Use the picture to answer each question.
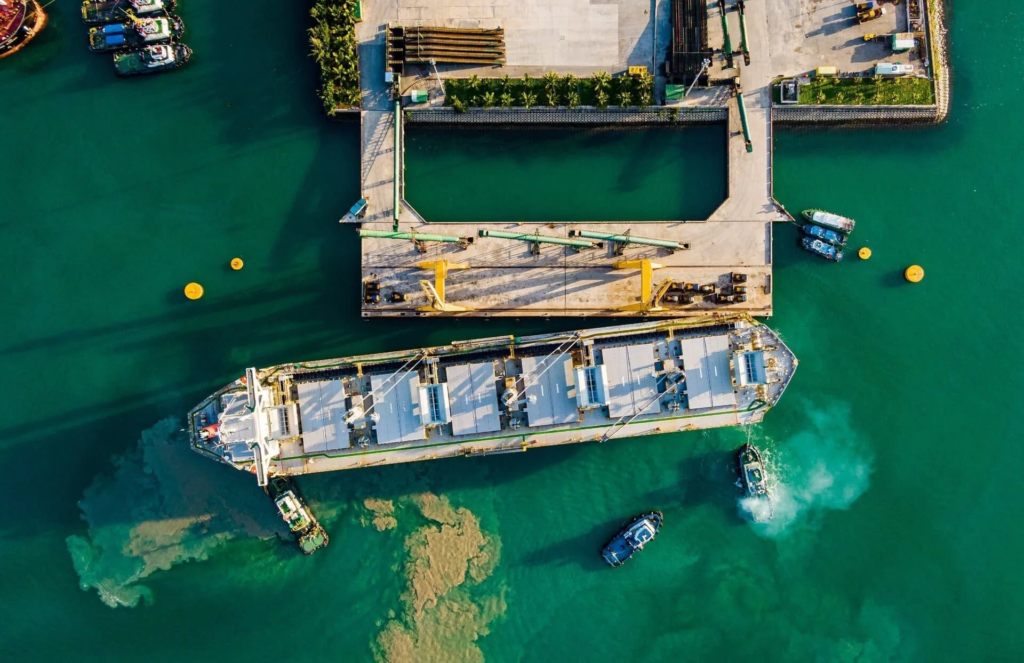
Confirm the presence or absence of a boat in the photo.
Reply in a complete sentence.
Yes, there's a boat here.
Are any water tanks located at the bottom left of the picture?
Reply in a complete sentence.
No, I can find no water tank at the bottom left of the picture.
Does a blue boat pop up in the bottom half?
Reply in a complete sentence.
Yes, a blue boat is visible in the bottom half.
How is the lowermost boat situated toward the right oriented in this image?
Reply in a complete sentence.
From this overhead view, the lowermost boat situated toward the right appears to run on a diagonal.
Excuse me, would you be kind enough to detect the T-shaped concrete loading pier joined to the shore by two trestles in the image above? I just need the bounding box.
[340,108,794,321]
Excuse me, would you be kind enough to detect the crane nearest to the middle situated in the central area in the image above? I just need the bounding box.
[414,256,476,314]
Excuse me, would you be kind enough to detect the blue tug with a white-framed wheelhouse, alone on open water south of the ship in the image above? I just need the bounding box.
[599,511,664,570]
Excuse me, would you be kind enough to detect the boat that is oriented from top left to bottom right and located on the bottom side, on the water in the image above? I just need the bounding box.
[268,476,330,558]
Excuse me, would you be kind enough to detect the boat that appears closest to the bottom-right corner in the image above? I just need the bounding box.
[740,442,774,523]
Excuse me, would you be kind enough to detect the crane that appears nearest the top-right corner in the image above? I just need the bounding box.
[608,256,675,314]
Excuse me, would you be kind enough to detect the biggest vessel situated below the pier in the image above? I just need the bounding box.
[185,311,799,486]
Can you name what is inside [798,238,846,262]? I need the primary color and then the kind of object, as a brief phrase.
blue boat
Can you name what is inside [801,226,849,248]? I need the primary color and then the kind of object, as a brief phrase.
blue boat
